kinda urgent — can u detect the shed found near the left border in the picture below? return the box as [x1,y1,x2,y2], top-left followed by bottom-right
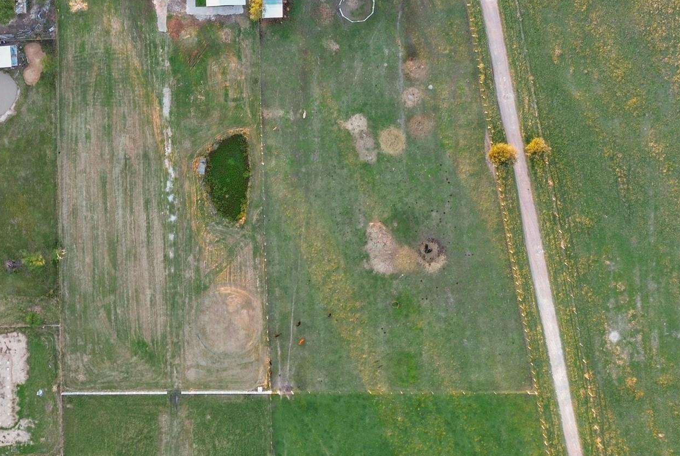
[0,45,19,68]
